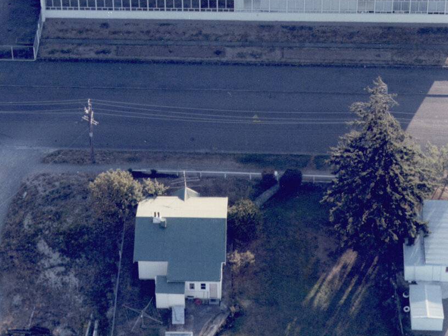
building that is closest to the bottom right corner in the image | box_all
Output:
[408,281,446,332]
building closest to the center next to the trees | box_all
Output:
[134,187,228,304]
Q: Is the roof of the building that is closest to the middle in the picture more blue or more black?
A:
blue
